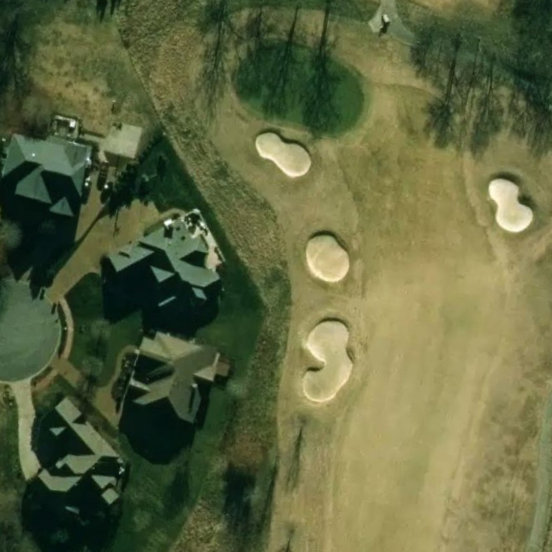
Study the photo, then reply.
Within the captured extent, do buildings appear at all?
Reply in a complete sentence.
Yes, a building can be made out from above.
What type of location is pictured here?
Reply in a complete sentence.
The picture captures a golf course.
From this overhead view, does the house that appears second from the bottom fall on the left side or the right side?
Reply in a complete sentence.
The house that appears second from the bottom sits on the left side.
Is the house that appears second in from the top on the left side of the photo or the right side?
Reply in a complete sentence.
The house that appears second in from the top sits on the left side.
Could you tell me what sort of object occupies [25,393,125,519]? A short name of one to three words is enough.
house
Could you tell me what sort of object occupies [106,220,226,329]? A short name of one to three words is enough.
house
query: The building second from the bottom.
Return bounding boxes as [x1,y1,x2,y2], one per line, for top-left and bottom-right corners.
[126,336,218,435]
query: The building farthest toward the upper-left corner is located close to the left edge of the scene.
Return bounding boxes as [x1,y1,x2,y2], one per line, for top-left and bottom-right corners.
[2,134,96,217]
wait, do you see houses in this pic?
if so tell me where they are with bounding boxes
[2,134,96,217]
[126,336,218,435]
[106,220,226,329]
[25,393,125,519]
